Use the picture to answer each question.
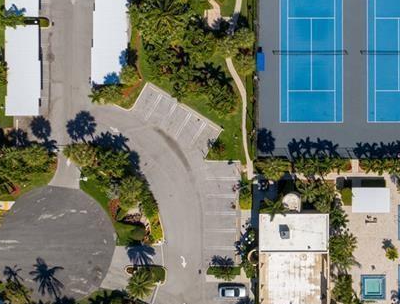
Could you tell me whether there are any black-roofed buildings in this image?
No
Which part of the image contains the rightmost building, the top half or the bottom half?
bottom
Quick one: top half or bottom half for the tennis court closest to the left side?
top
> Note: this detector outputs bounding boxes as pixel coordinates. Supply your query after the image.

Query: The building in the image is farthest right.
[352,188,390,213]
